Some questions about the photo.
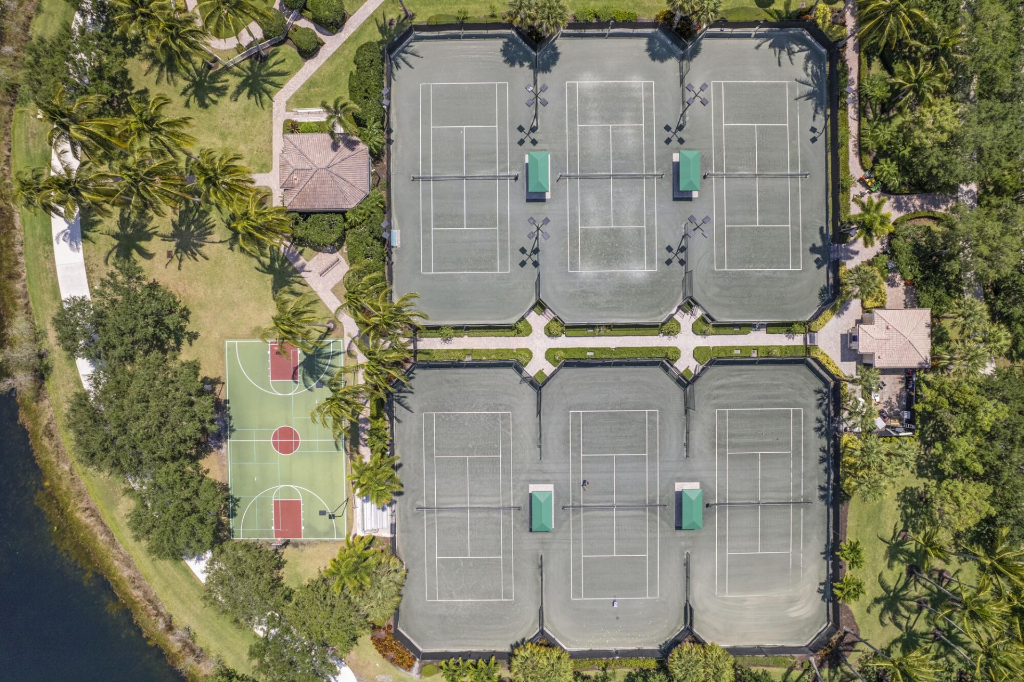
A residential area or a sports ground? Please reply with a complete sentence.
It's a sports ground.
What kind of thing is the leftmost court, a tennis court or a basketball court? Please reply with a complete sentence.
In the photo, the leftmost court shows up as a basketball court.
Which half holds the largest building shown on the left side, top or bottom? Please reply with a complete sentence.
It is in the top half that the largest building shown on the left side appears.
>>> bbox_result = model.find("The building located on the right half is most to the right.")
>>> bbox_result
[848,308,931,368]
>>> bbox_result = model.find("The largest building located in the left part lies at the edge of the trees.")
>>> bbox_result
[278,133,370,210]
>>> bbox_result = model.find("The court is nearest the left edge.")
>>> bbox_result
[224,338,349,542]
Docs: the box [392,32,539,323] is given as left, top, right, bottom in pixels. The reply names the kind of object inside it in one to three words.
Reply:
tennis court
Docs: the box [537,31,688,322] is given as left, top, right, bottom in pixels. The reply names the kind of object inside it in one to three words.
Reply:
tennis court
